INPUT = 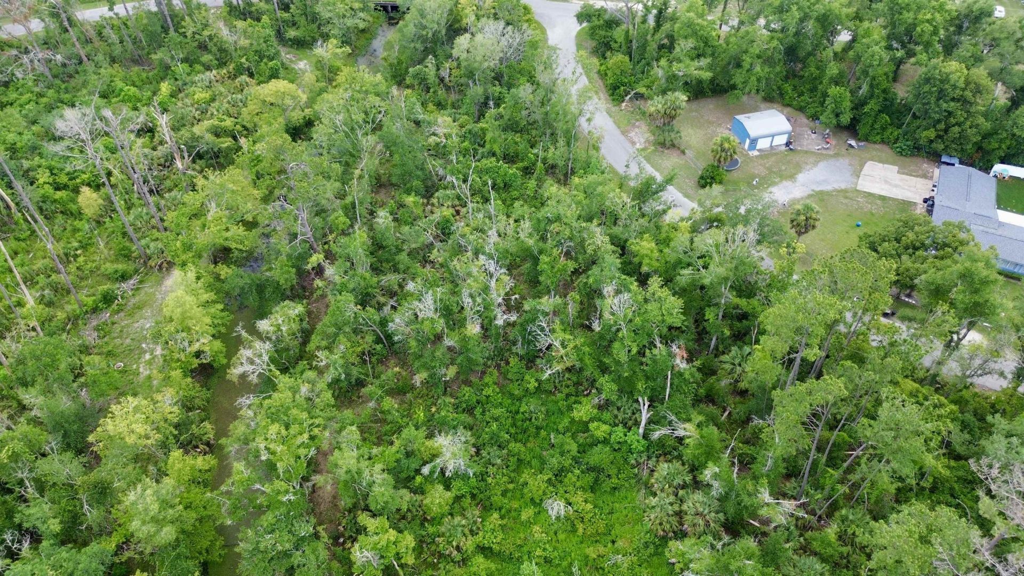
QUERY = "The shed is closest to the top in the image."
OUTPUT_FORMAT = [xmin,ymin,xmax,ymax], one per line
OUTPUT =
[729,111,793,151]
